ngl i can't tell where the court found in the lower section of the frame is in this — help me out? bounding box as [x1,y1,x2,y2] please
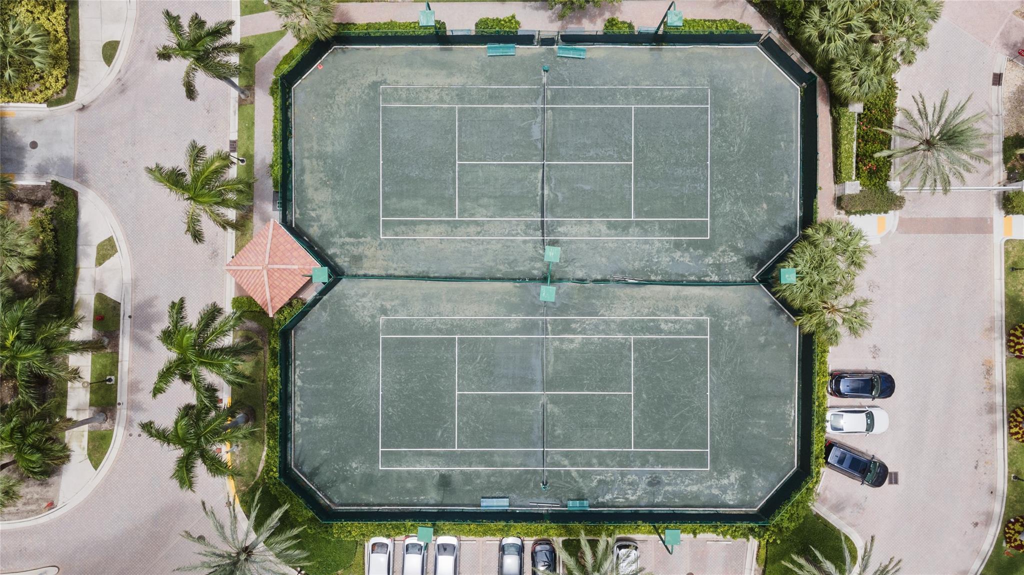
[292,278,798,509]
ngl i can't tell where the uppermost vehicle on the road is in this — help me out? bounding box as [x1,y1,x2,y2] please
[825,369,894,401]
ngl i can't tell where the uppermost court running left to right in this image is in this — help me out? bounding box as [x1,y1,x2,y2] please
[293,46,800,283]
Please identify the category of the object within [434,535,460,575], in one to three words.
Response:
car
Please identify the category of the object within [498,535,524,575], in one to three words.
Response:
car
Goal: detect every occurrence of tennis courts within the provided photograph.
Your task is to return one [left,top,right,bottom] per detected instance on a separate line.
[293,46,800,283]
[292,278,798,509]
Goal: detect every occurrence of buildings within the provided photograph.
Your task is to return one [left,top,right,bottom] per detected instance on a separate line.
[222,217,325,319]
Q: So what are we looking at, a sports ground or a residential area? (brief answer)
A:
sports ground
